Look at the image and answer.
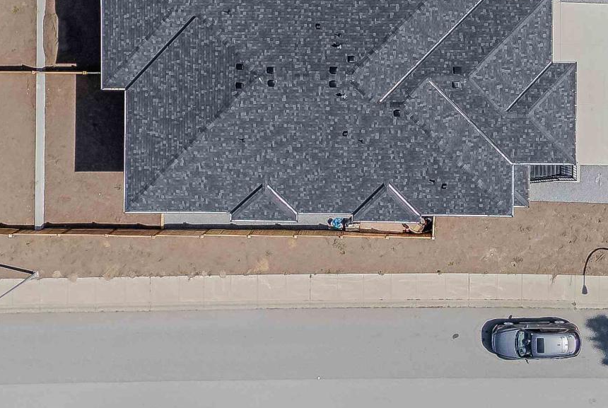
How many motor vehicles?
1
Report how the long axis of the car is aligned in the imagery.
horizontally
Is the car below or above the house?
below it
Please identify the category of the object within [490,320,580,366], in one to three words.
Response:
car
